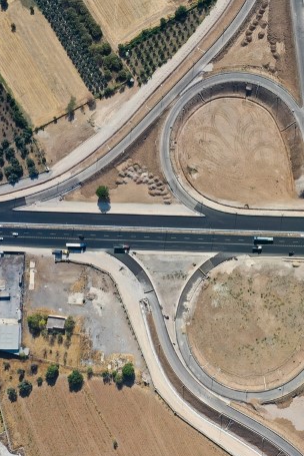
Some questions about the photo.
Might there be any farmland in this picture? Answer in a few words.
Yes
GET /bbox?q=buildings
[0,317,25,349]
[46,315,69,332]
